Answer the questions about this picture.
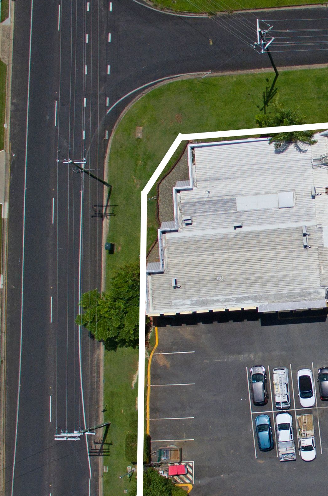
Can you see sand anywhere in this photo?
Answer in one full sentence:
No, no sand is visible.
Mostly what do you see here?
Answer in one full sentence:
What you mostly see from above here is paved ground.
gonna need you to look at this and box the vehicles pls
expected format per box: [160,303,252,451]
[272,367,292,409]
[275,411,297,464]
[296,368,316,408]
[296,413,317,462]
[249,364,270,406]
[316,367,328,401]
[253,413,275,452]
